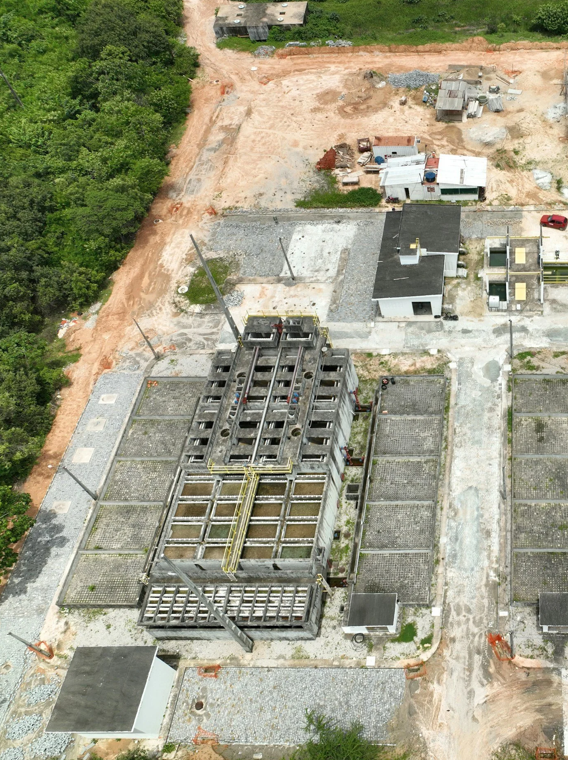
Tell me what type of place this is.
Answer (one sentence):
This image shows an industrial area.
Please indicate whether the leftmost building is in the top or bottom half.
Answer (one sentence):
The bottom half of the photo is where the leftmost building is.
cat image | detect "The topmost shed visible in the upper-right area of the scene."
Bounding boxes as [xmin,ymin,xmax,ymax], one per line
[435,80,467,127]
